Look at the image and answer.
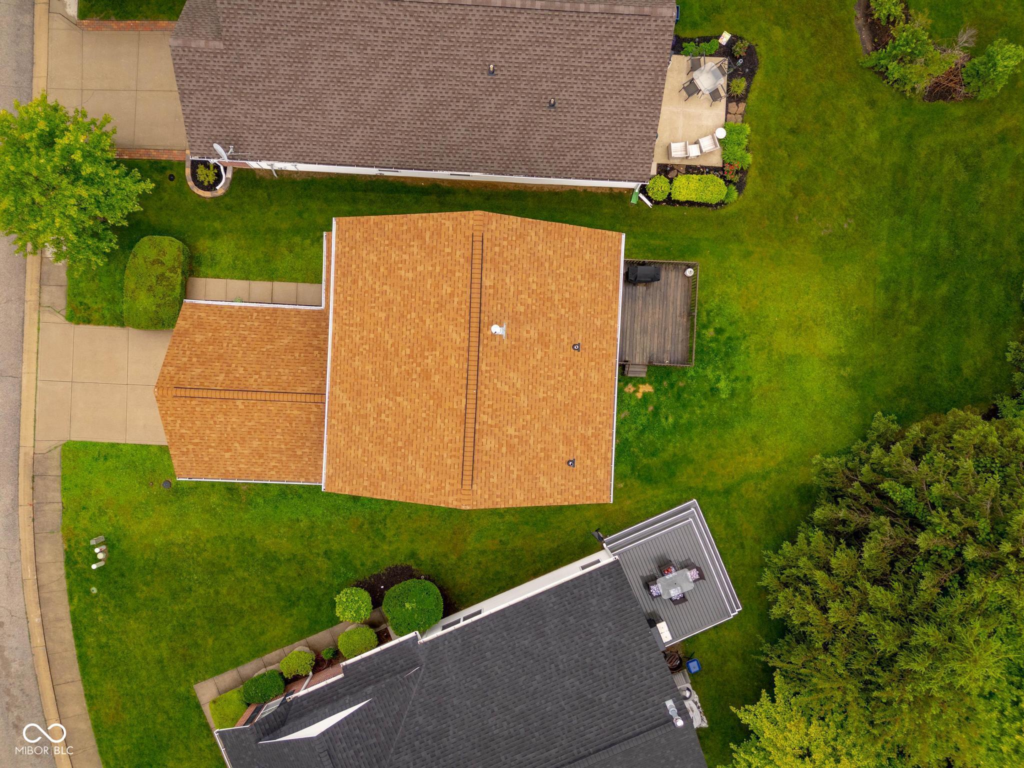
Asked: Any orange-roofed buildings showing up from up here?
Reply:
Yes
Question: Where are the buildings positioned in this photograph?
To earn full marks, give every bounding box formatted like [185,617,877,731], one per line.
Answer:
[169,0,675,201]
[212,535,712,768]
[156,210,626,509]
